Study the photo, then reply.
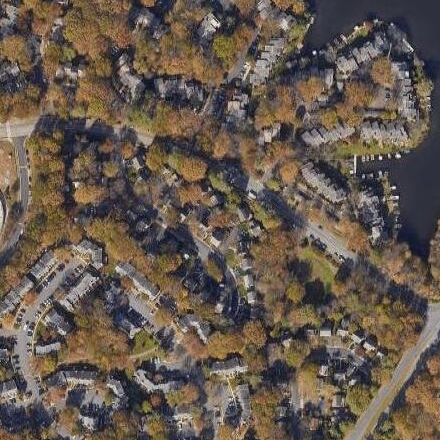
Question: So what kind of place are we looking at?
residential area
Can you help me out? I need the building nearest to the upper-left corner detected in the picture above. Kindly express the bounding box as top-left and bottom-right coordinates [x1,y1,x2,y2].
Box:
[0,4,22,32]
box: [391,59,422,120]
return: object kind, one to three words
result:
house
